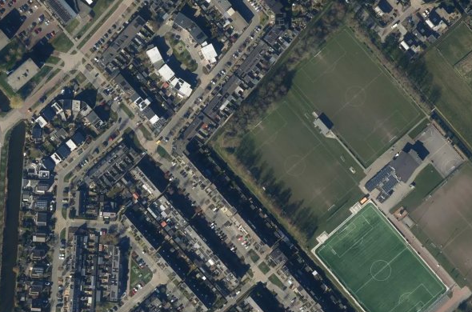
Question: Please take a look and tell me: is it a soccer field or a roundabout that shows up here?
soccer field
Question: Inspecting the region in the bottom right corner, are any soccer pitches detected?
Yes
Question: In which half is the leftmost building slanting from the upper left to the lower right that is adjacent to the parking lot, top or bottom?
top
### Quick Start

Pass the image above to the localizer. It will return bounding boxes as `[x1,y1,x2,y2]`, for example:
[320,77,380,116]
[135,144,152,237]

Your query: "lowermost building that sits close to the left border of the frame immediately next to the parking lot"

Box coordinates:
[5,57,41,91]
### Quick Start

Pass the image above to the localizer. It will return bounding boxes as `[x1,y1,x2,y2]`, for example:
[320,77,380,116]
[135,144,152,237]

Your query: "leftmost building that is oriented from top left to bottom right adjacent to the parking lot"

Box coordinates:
[45,0,78,28]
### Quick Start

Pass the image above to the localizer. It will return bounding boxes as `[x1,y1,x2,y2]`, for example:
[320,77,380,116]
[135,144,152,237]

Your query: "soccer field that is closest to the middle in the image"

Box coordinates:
[239,90,366,225]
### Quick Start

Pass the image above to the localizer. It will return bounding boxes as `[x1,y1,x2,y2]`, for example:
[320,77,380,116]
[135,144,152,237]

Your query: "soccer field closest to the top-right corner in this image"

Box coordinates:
[289,26,422,165]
